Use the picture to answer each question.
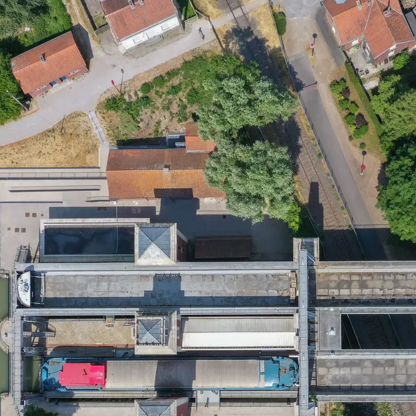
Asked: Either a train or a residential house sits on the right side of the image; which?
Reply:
residential house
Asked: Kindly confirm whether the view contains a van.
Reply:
No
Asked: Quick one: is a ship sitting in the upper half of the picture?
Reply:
No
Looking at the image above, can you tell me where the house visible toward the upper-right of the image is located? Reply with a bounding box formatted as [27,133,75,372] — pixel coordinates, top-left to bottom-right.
[322,0,416,64]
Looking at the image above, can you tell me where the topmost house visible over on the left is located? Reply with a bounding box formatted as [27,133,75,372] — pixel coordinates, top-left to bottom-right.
[100,0,181,51]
